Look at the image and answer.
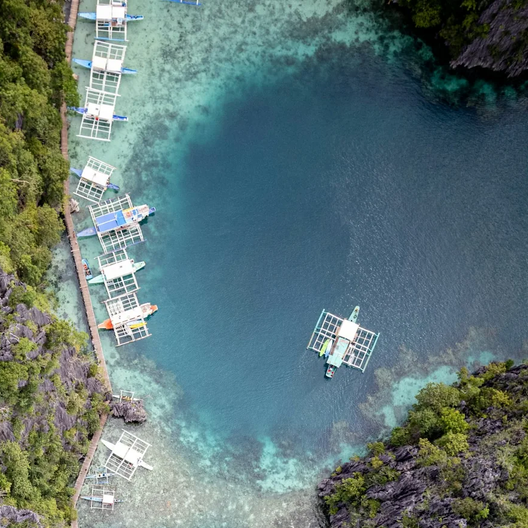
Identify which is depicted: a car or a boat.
boat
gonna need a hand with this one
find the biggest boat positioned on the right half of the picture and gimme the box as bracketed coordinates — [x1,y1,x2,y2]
[307,306,380,379]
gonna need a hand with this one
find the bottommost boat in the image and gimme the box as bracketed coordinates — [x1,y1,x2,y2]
[81,484,125,510]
